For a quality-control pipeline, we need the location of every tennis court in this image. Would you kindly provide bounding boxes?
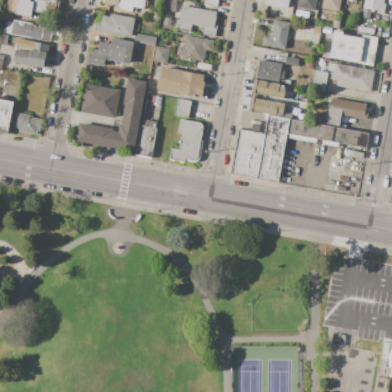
[233,346,265,392]
[265,346,298,392]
